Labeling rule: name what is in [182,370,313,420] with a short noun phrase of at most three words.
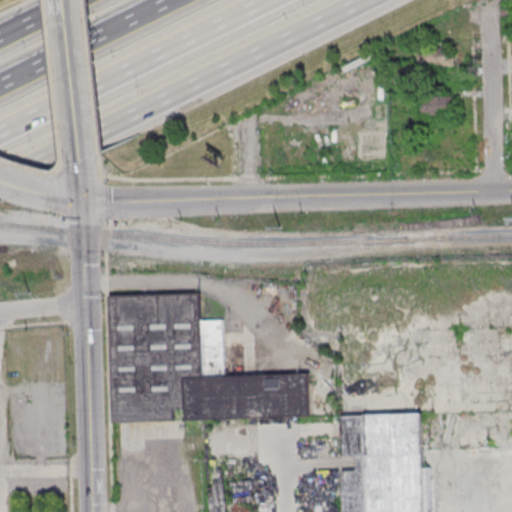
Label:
building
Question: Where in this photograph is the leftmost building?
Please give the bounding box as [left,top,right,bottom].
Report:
[108,294,204,422]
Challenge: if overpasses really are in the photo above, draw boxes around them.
[40,0,102,164]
